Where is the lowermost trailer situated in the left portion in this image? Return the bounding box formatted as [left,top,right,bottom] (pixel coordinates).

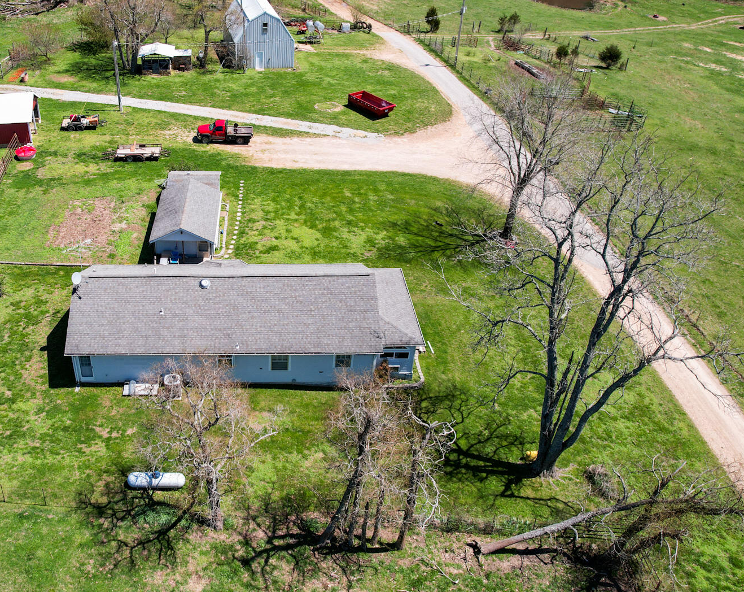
[99,143,177,163]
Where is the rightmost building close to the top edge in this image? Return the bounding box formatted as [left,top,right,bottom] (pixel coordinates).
[220,0,314,71]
